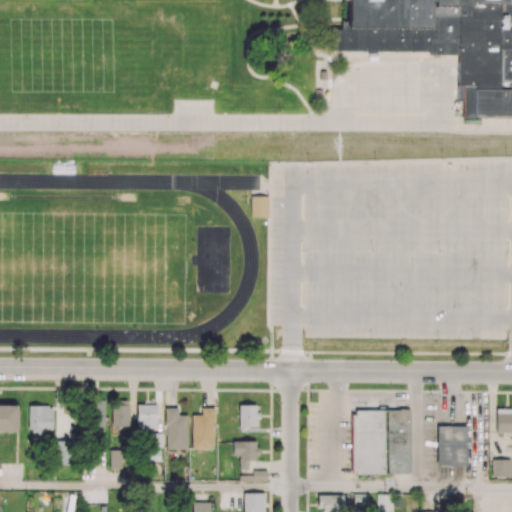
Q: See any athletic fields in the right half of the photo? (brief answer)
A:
No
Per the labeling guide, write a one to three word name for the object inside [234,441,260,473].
house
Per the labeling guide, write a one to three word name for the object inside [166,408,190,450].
house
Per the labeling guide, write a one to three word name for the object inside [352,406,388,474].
building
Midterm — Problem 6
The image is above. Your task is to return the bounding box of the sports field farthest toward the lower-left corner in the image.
[0,211,190,326]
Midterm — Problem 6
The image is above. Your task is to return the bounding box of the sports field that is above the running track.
[9,16,117,96]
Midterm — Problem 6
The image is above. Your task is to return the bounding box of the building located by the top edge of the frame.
[338,0,512,123]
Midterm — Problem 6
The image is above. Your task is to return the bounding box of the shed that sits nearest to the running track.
[252,196,270,218]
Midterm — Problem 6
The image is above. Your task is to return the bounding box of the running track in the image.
[0,174,259,344]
